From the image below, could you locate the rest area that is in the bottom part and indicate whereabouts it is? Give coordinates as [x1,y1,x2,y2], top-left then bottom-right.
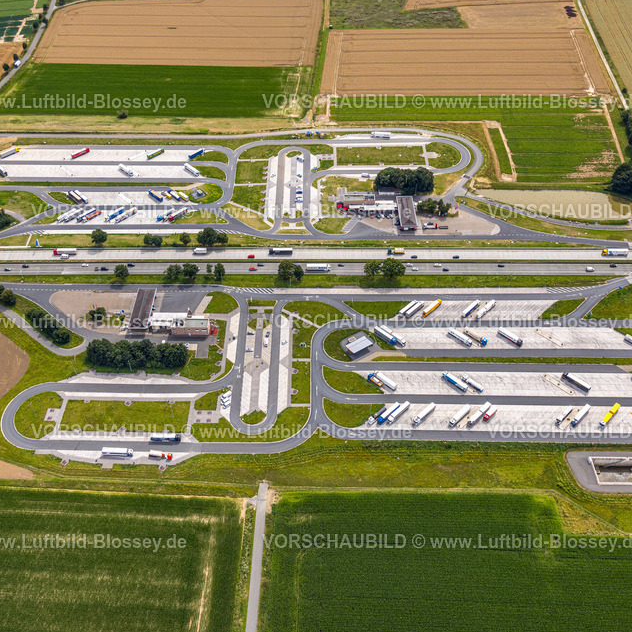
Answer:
[0,275,632,492]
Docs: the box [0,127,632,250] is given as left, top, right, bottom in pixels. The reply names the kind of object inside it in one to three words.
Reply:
service area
